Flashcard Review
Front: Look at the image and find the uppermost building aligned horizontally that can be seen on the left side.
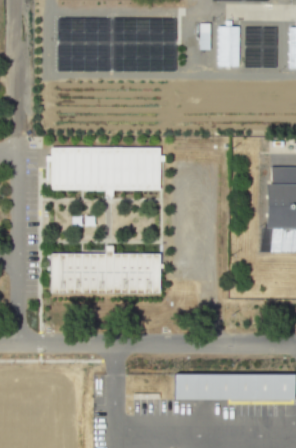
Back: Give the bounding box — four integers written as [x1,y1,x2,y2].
[46,146,165,198]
